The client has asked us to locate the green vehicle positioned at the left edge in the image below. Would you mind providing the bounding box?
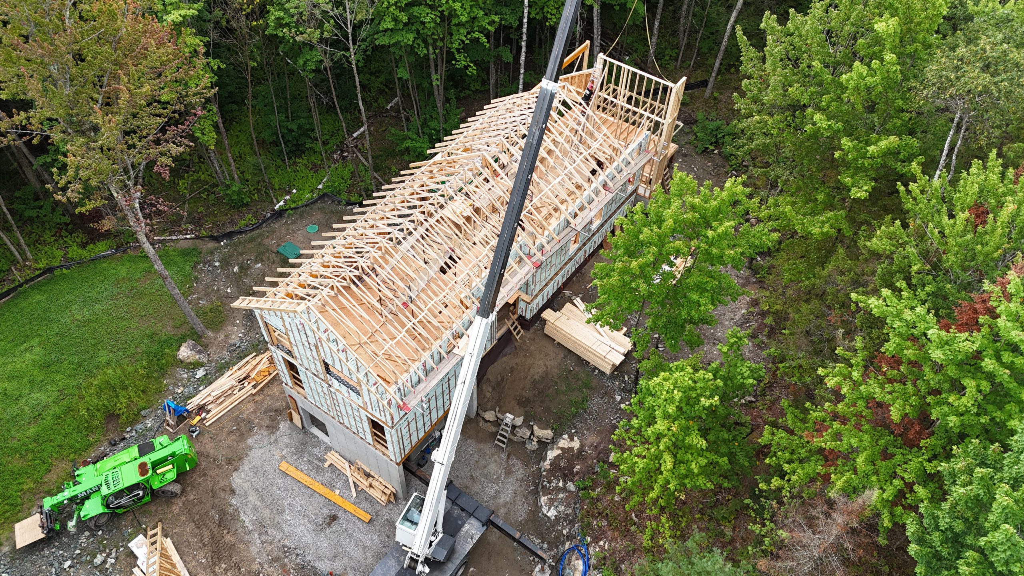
[39,426,202,547]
